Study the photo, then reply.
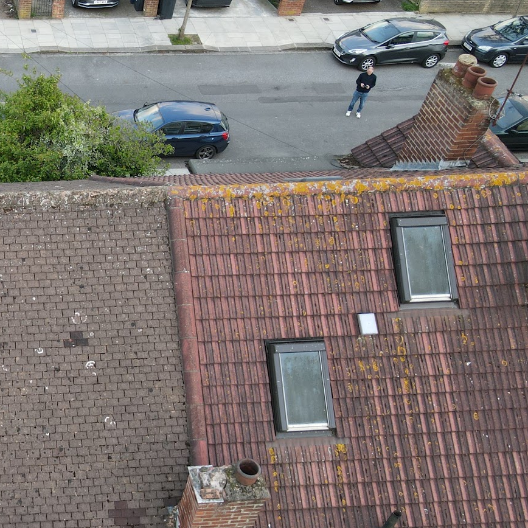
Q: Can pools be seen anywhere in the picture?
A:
No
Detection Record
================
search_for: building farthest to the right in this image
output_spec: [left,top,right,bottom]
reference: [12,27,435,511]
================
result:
[98,54,528,528]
